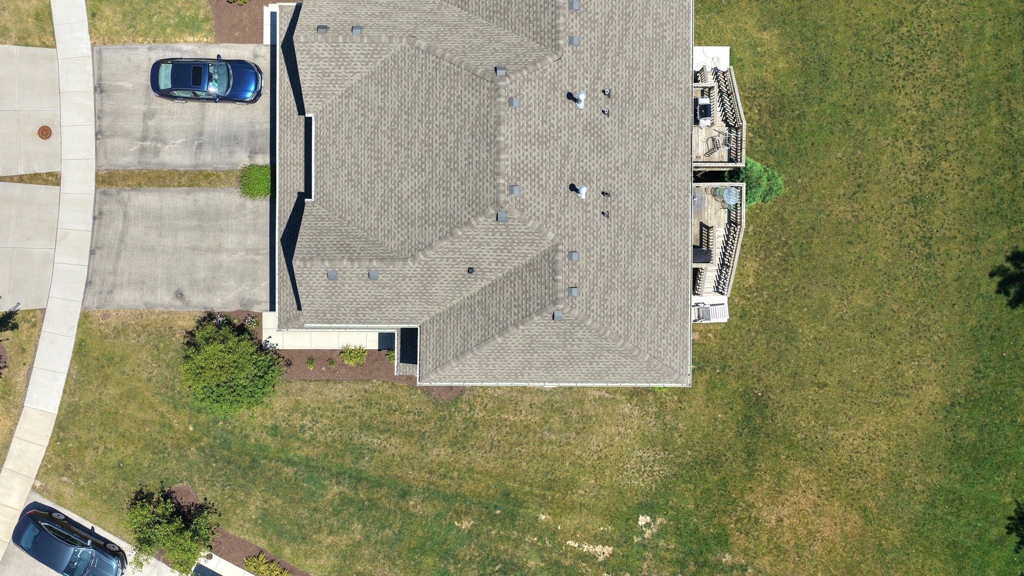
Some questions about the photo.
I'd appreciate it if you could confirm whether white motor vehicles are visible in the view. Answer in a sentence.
No, I can see no white motor vehicle in this picture.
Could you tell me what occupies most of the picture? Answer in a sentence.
The scene is dominated by grass.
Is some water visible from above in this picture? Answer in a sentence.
No, the scene doesn't show any water.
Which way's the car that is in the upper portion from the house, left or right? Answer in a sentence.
Looking at the picture, you'll find the car that is in the upper portion to the left of the house.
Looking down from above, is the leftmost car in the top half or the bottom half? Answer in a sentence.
The leftmost car sits in the bottom half of the picture.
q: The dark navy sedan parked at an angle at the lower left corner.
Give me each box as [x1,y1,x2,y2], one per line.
[12,509,128,576]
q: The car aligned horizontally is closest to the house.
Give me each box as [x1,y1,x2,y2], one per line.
[149,53,266,105]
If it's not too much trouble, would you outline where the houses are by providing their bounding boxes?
[276,0,694,386]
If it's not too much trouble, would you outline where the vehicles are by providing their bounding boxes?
[149,53,266,105]
[12,509,128,576]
